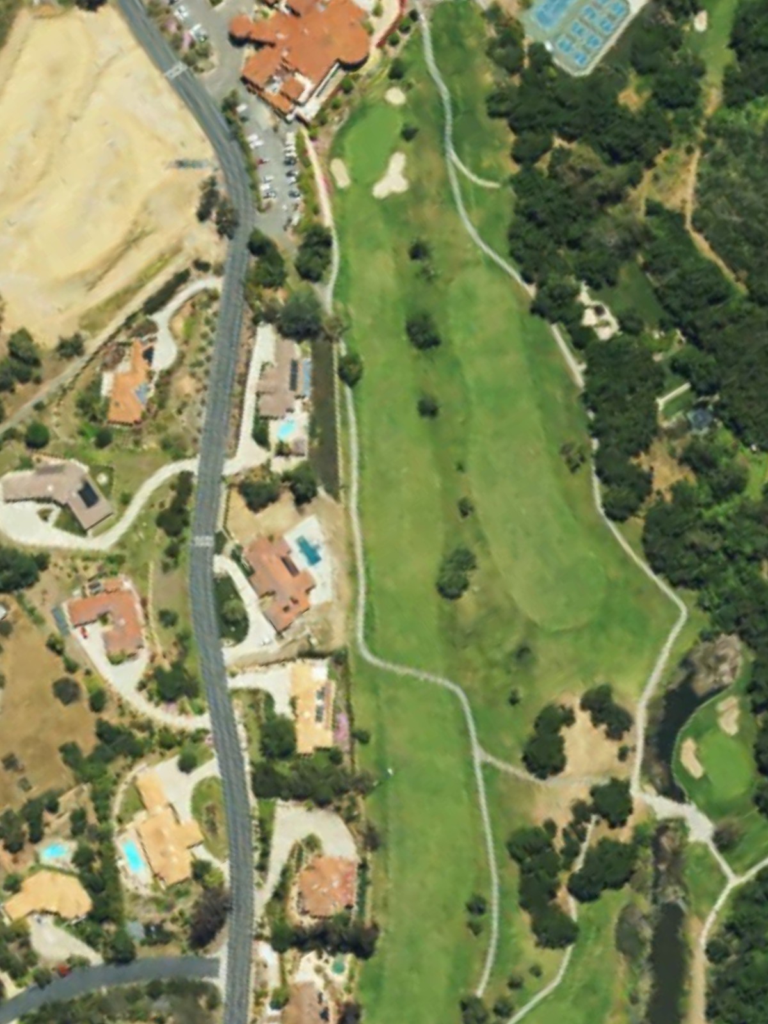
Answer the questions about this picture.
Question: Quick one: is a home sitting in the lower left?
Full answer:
Yes, looking in the lower left, one can make out a home.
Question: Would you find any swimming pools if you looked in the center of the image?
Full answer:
Yes, a swimming pool shows up in the center of the image.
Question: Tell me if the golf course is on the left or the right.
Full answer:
The golf course is on the right side of the image.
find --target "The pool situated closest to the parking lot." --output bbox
[278,419,296,438]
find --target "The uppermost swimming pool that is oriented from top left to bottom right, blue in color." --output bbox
[296,536,321,565]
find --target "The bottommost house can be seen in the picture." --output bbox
[288,983,331,1024]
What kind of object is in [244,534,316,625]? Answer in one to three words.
house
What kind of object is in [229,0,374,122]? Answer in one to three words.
building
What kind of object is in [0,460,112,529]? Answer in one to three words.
house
